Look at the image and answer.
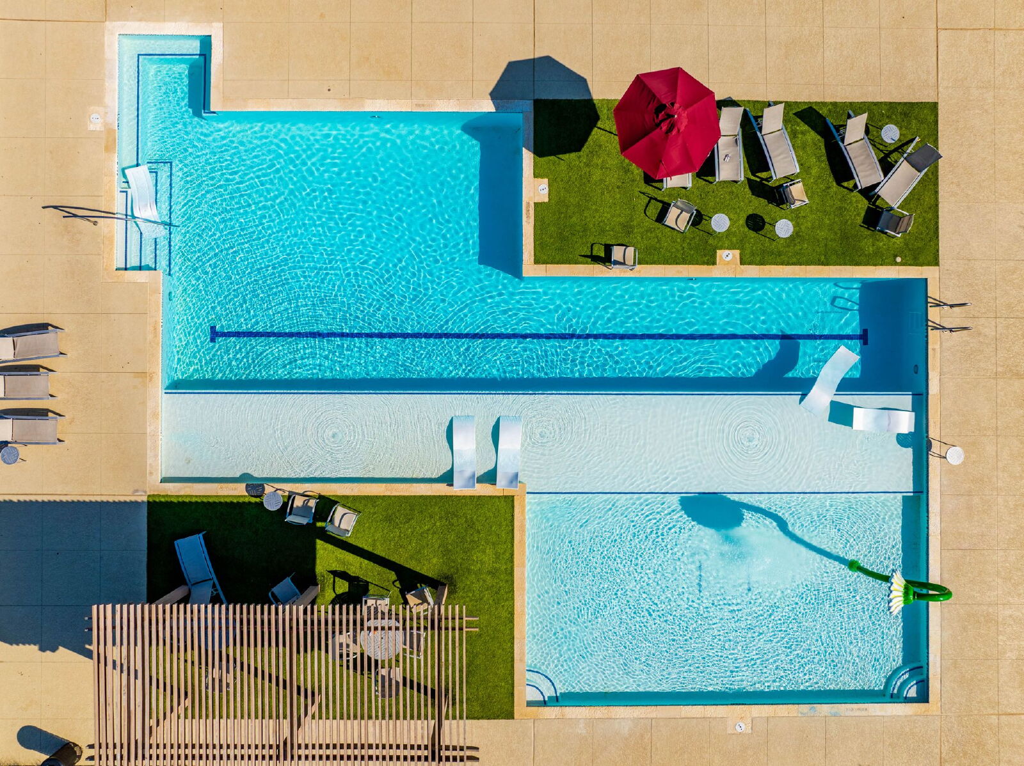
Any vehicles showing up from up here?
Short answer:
No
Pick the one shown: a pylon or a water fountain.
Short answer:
water fountain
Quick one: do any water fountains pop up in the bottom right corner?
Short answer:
Yes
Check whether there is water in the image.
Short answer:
Yes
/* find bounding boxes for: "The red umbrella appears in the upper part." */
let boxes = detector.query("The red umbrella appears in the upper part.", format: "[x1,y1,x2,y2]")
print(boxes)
[614,67,720,180]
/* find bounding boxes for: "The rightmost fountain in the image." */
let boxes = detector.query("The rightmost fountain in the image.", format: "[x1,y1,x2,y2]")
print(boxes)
[851,562,956,621]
